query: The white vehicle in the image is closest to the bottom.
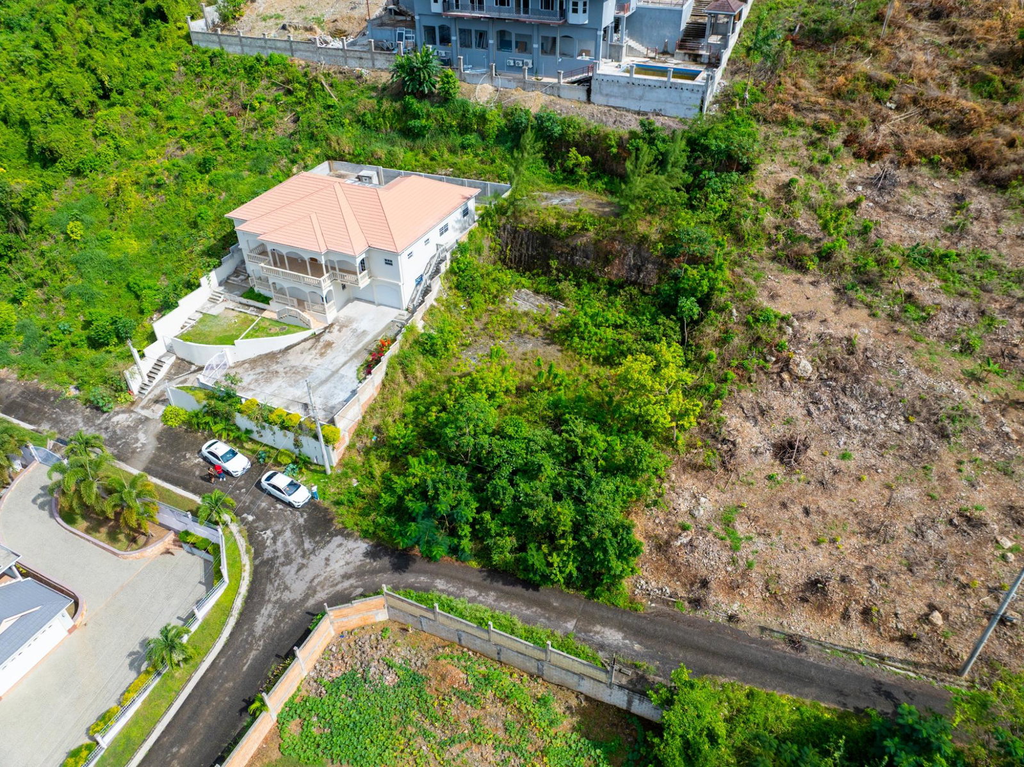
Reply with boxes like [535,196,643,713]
[255,473,313,513]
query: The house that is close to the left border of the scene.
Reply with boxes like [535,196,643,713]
[0,541,77,691]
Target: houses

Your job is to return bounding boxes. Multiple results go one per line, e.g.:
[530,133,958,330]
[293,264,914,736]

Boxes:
[0,541,77,691]
[386,0,701,71]
[224,172,482,321]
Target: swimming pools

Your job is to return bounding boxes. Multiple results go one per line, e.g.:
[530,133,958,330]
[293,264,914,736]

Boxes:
[589,49,714,109]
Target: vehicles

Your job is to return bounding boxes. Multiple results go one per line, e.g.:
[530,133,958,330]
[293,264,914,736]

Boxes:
[255,473,313,513]
[195,442,251,479]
